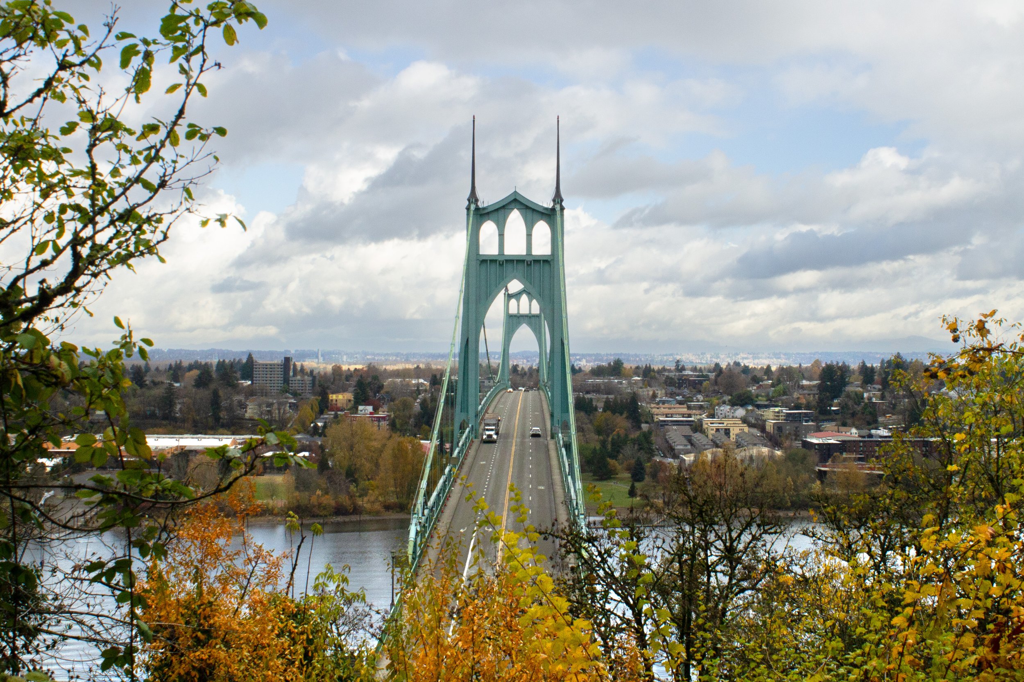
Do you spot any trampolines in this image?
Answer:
No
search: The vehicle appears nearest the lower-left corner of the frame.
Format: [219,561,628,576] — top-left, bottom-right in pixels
[483,419,498,443]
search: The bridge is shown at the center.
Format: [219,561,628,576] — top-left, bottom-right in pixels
[363,115,595,682]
